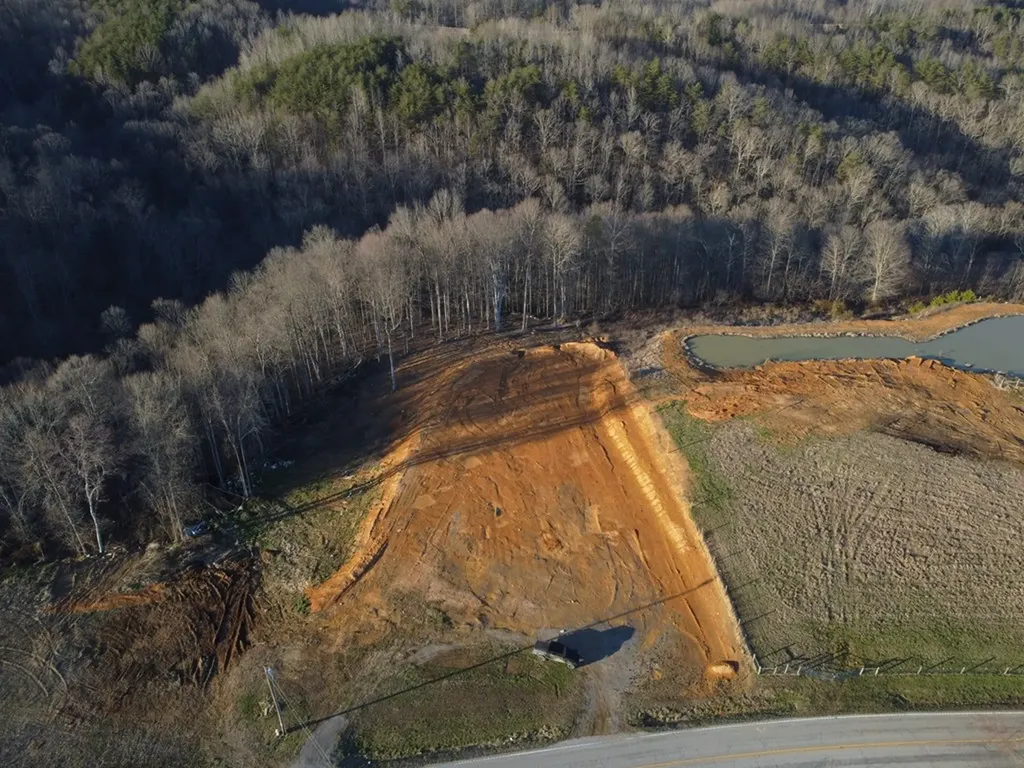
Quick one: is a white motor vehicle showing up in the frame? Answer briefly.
No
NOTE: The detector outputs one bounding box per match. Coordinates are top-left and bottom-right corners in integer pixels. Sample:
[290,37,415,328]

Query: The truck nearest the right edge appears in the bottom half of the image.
[532,642,582,673]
